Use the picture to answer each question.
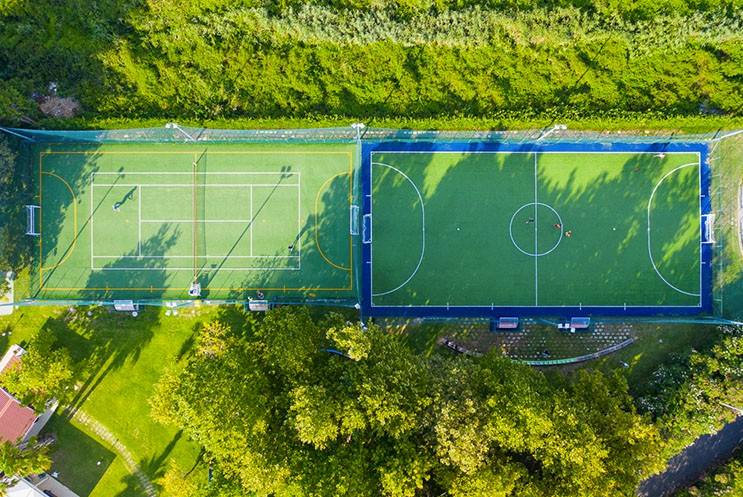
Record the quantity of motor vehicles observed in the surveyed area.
0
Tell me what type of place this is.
sports ground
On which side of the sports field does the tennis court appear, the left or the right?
to the left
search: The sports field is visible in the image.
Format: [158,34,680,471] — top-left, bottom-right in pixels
[361,141,712,317]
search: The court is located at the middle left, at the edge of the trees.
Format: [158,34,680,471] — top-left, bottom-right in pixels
[36,141,359,300]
